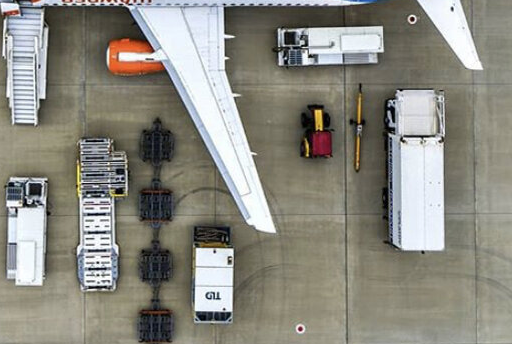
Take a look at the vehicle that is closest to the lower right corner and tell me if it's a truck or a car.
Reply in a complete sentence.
What you see as the vehicle that is closest to the lower right corner is a truck.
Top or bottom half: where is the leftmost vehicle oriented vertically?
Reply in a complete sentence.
The bottom half of the photo is where the leftmost vehicle oriented vertically is.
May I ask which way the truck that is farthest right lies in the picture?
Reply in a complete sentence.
What the image shows is the truck that is farthest right lying up and down.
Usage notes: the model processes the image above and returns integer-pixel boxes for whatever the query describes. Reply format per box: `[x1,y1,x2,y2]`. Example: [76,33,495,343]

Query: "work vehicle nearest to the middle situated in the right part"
[301,106,335,158]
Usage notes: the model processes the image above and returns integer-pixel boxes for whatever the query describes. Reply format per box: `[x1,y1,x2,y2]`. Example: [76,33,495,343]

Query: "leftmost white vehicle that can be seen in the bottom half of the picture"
[11,176,51,288]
